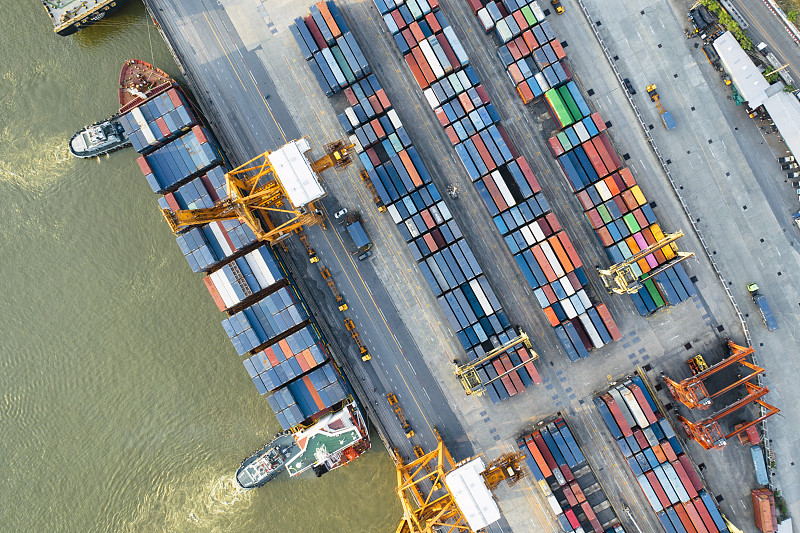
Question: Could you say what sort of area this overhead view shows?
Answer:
port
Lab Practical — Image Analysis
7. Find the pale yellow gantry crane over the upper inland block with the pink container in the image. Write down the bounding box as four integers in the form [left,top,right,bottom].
[592,228,694,294]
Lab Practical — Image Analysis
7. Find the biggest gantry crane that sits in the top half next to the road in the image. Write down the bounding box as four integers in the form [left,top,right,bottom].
[151,132,363,256]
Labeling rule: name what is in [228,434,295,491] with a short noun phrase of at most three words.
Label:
boat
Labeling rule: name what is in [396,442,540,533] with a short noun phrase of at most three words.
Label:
container crane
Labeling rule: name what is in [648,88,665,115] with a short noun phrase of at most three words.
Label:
vehicle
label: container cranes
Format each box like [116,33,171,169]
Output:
[453,322,541,395]
[151,132,363,256]
[671,370,782,449]
[592,228,694,294]
[657,333,766,408]
[396,442,540,533]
